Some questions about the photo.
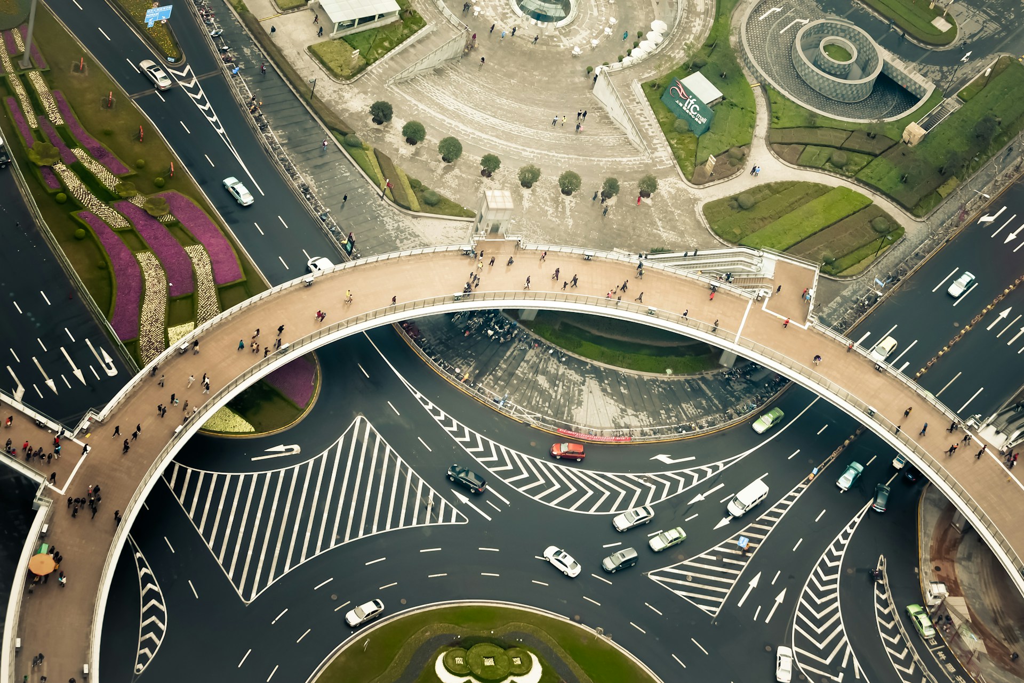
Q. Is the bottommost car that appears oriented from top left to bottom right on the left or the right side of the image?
right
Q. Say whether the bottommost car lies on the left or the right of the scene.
right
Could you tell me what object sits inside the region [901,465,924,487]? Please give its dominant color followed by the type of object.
black car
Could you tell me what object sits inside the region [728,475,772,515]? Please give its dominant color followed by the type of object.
white vehicle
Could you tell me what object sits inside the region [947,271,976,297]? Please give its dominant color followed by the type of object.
white car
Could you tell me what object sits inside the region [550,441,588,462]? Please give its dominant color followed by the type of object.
red car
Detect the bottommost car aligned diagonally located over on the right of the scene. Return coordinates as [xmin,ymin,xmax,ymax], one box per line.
[904,604,937,641]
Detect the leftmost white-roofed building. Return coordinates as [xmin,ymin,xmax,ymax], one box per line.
[311,0,401,37]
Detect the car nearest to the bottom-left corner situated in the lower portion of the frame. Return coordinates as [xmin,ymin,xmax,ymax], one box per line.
[343,598,388,627]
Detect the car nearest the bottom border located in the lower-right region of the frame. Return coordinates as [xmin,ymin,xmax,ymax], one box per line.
[775,646,795,683]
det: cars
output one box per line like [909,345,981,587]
[871,335,898,361]
[550,441,588,462]
[870,480,893,516]
[0,139,8,152]
[947,271,976,297]
[445,464,489,494]
[890,452,909,475]
[343,598,388,627]
[613,505,655,531]
[221,177,256,206]
[901,465,924,487]
[928,389,941,401]
[775,646,795,683]
[304,254,334,271]
[751,407,786,434]
[599,544,642,574]
[648,526,688,552]
[834,461,865,491]
[904,604,937,641]
[541,545,584,578]
[138,60,172,91]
